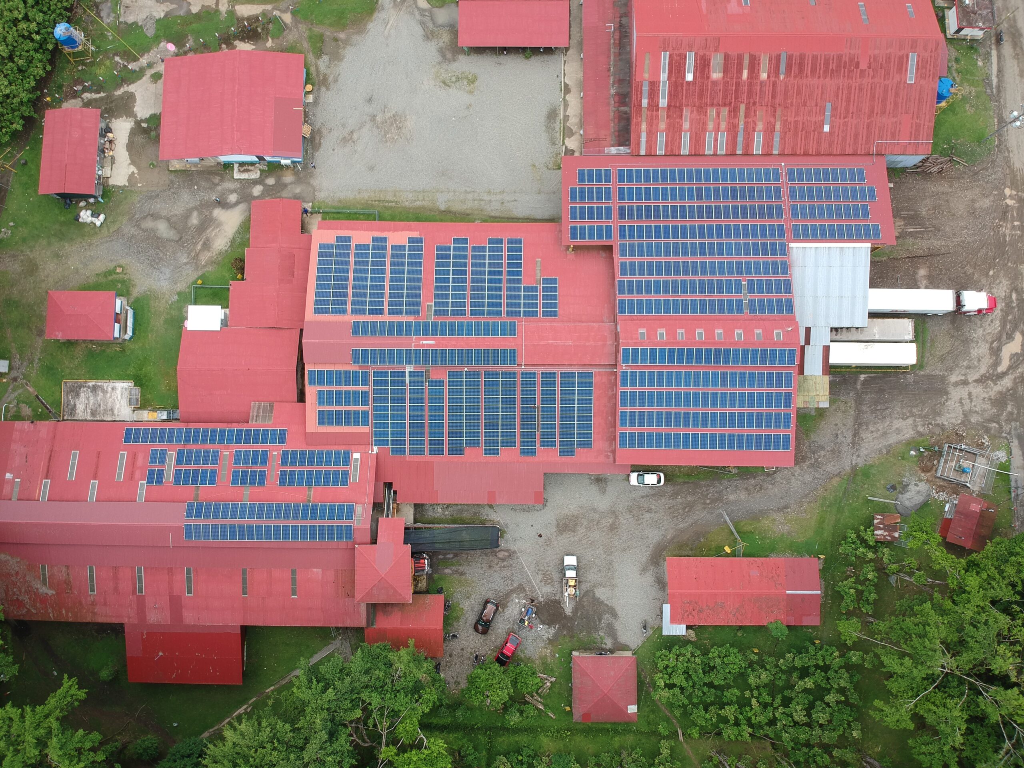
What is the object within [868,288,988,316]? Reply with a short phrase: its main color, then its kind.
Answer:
white truck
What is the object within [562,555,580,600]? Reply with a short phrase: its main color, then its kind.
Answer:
white vehicle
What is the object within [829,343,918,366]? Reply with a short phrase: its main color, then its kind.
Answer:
white trailer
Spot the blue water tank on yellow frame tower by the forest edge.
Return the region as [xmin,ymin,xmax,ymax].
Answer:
[55,24,102,68]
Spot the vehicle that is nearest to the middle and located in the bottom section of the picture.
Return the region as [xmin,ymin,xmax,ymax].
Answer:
[629,470,665,488]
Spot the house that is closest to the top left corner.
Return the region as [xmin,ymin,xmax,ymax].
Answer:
[39,108,106,198]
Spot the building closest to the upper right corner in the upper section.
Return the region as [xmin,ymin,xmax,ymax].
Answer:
[945,0,994,40]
